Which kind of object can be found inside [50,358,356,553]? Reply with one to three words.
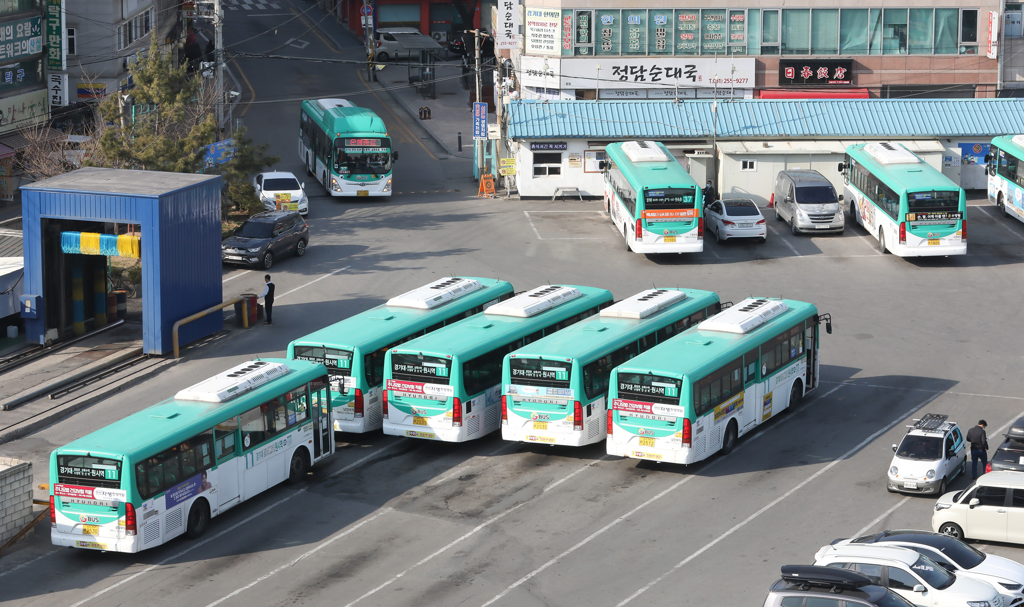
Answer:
bus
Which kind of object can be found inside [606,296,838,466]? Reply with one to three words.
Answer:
bus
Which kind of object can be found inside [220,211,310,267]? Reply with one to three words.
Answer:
car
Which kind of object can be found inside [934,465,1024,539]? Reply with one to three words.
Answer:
car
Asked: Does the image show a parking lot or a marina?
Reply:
parking lot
